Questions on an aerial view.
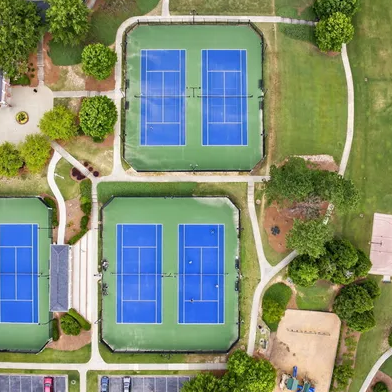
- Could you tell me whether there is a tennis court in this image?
Yes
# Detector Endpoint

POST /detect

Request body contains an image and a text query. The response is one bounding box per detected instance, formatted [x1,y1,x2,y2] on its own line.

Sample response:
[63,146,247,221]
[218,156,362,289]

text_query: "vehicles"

[41,377,52,392]
[99,376,109,392]
[121,377,130,392]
